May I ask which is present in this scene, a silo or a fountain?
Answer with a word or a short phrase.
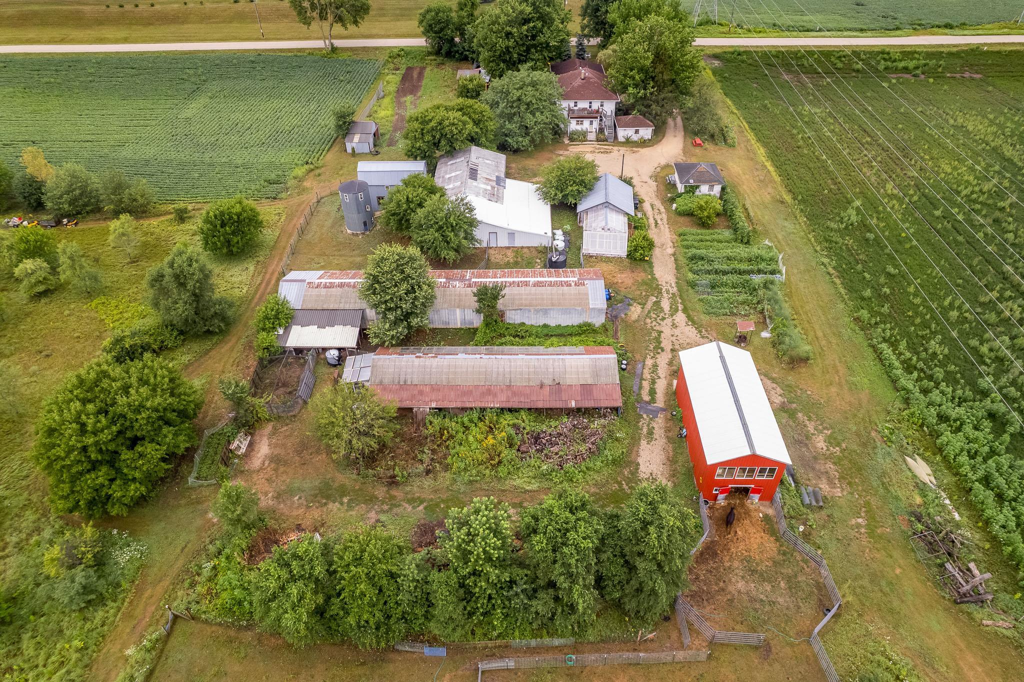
silo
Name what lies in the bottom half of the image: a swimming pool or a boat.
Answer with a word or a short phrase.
boat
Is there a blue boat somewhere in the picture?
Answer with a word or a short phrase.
No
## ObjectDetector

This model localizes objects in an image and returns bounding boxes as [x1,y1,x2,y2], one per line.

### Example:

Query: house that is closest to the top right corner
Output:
[670,161,726,199]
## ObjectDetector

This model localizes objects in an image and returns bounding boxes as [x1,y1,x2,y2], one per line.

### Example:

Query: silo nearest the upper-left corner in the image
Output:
[339,178,377,234]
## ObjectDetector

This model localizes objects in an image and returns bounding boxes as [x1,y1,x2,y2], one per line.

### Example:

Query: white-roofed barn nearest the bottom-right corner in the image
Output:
[675,340,790,506]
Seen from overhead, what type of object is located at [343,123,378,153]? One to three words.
shed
